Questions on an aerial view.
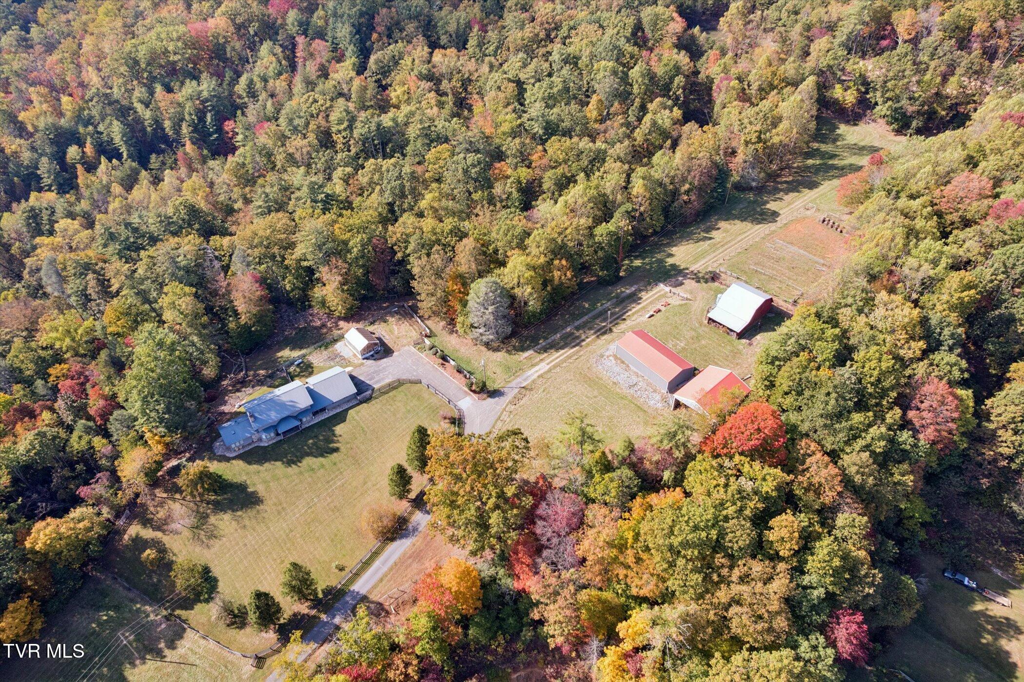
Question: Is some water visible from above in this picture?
No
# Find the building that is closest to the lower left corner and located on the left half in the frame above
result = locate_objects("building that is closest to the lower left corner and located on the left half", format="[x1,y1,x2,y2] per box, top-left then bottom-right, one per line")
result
[217,366,357,452]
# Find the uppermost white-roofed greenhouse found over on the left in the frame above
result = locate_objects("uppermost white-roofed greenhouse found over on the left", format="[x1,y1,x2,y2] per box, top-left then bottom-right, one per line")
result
[344,327,380,359]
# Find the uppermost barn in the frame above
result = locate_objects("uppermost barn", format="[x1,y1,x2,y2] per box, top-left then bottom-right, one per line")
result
[706,281,773,338]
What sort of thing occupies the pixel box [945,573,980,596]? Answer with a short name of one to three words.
truck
